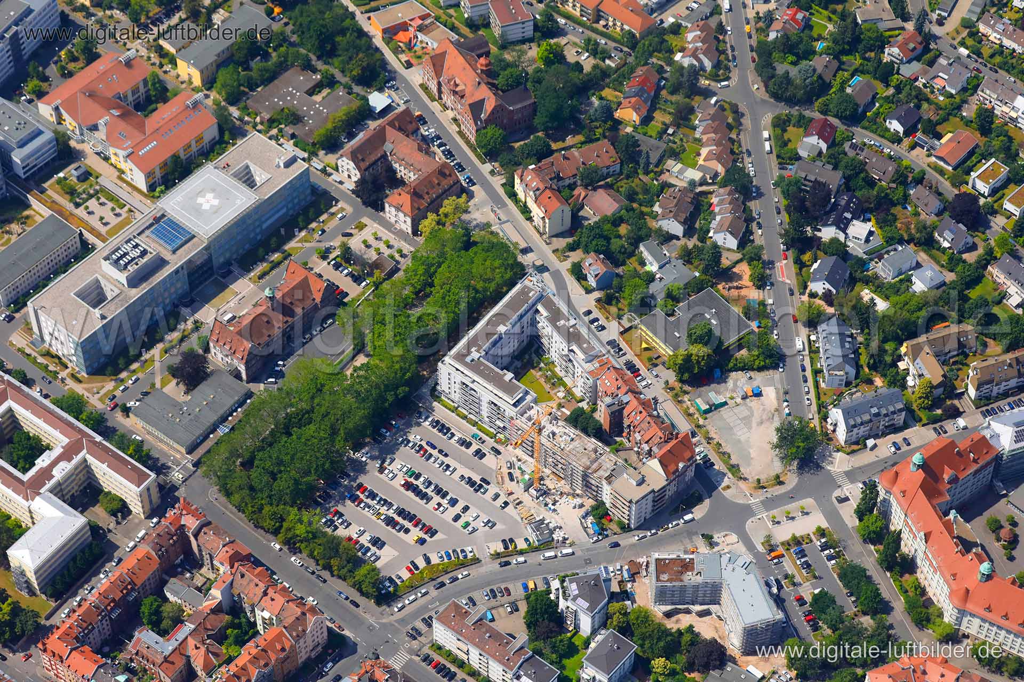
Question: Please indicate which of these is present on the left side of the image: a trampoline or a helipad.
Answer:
helipad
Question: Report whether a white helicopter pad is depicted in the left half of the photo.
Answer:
Yes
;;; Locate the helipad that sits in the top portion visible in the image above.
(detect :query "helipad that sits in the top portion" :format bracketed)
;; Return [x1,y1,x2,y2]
[152,161,265,243]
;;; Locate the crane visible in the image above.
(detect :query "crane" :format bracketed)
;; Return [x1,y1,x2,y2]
[512,354,604,498]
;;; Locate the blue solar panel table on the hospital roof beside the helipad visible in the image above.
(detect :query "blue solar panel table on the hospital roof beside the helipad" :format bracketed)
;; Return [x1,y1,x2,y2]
[148,217,192,252]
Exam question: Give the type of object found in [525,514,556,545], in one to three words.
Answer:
shed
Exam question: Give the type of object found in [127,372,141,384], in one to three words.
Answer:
vehicle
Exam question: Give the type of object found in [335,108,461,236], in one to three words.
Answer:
building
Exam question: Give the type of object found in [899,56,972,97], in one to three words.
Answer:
house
